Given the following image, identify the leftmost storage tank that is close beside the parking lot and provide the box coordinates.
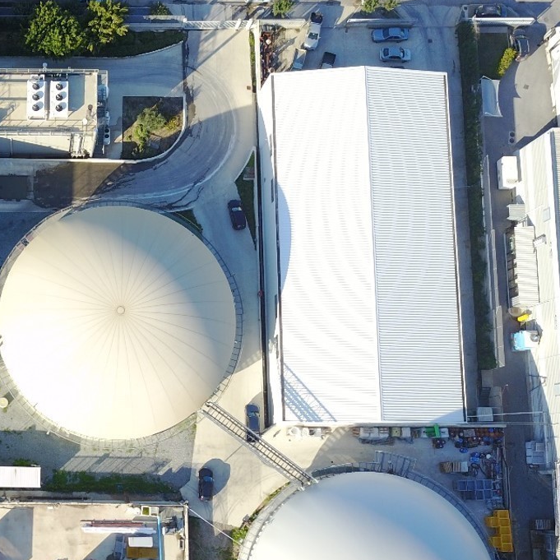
[0,199,245,454]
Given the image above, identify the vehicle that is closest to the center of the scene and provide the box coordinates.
[228,199,248,230]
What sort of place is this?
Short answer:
industrial area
